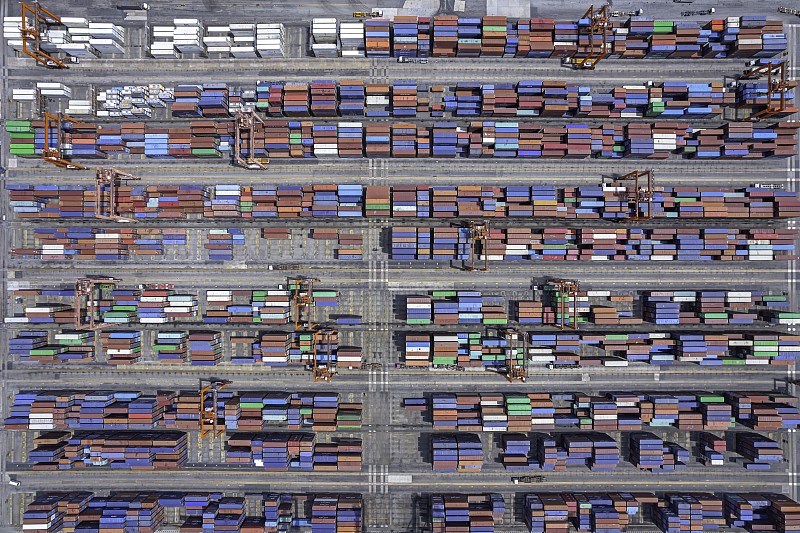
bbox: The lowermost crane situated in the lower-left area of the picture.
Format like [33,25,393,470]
[199,380,236,439]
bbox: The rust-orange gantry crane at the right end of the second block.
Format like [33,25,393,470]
[736,61,786,122]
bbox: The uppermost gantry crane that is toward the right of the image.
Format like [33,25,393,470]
[572,5,608,70]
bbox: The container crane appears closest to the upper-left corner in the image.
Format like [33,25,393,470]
[20,1,71,66]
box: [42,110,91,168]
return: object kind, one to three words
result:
container crane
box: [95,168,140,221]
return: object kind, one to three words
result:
container crane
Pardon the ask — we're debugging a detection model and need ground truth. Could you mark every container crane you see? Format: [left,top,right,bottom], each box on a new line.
[42,110,91,168]
[312,325,341,382]
[613,170,652,224]
[462,221,490,271]
[235,110,269,168]
[75,277,121,329]
[572,5,608,70]
[498,327,527,383]
[545,278,578,331]
[295,277,324,330]
[736,61,786,122]
[95,168,140,221]
[199,380,236,439]
[20,1,71,66]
